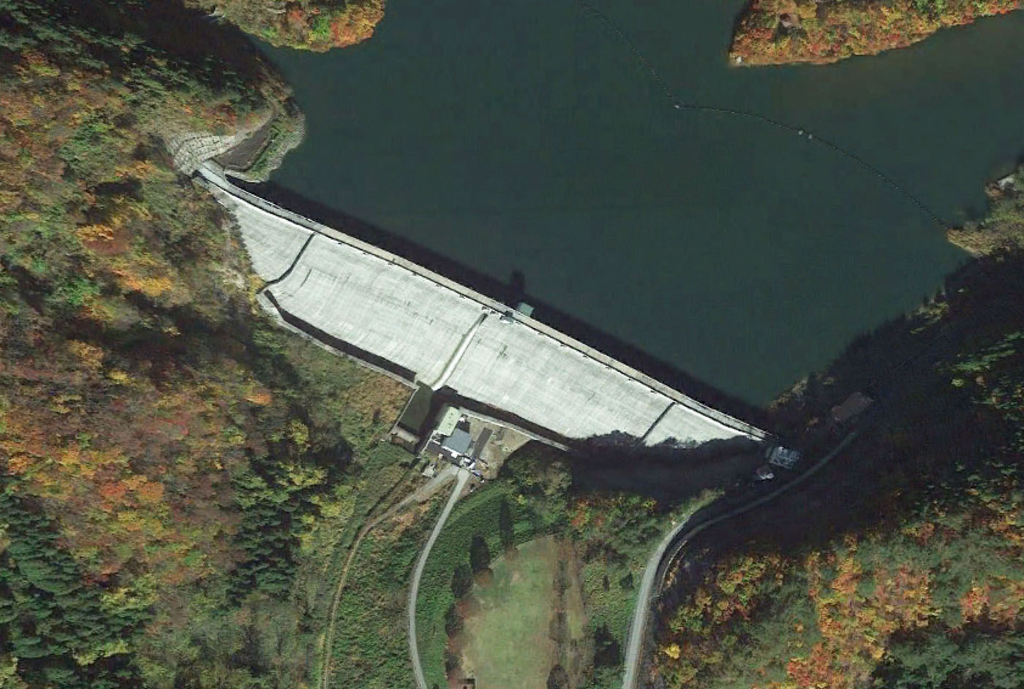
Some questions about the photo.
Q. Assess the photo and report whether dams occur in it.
Yes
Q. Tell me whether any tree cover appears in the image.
Yes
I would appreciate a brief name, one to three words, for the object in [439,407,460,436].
building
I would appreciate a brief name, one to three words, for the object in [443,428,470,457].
building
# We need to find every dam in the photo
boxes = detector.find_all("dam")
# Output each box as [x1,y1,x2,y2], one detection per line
[195,159,783,456]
